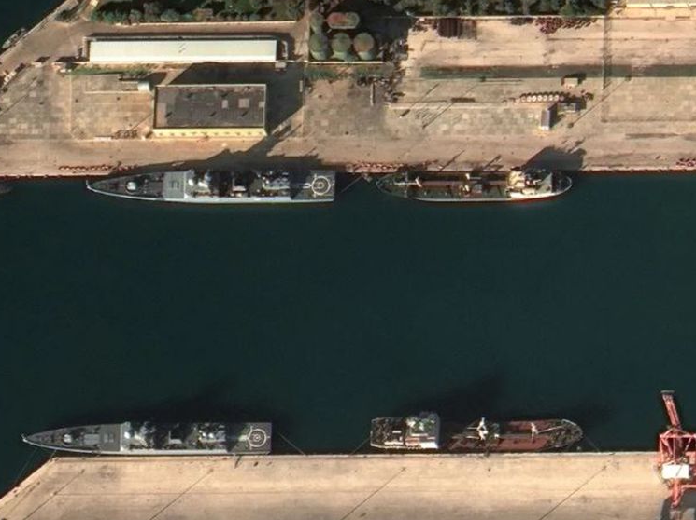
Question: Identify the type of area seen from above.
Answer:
port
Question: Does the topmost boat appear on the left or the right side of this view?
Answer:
left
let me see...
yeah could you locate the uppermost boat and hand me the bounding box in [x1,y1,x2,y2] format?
[3,27,27,49]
